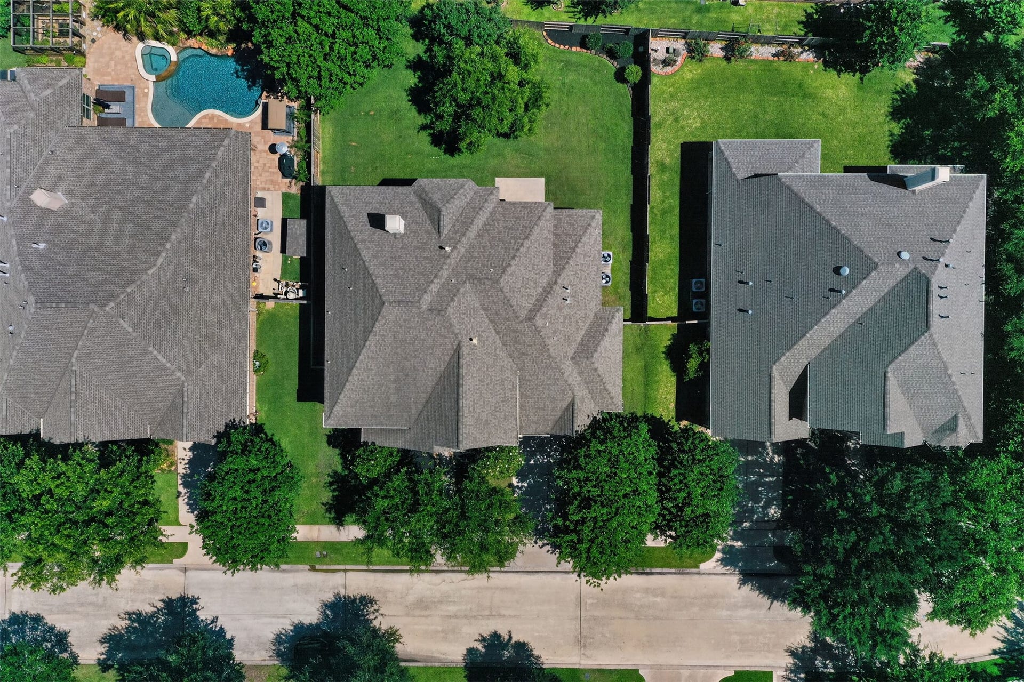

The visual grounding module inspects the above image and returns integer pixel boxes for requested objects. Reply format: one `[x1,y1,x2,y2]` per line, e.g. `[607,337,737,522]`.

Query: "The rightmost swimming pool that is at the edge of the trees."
[177,48,261,67]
